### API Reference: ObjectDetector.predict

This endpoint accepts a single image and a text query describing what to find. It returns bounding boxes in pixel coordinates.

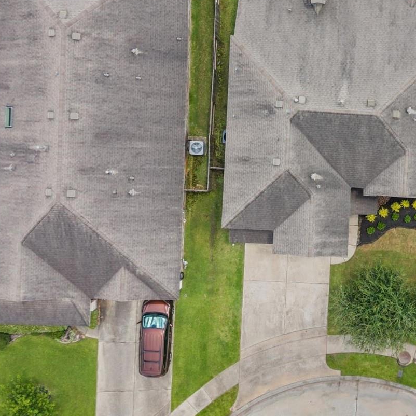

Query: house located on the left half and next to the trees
[0,0,190,327]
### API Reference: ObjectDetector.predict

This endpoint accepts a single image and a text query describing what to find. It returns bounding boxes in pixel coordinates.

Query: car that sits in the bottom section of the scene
[134,300,173,377]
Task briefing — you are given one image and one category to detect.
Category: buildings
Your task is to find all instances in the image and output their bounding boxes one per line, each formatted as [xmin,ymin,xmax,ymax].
[0,0,190,327]
[222,0,416,259]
